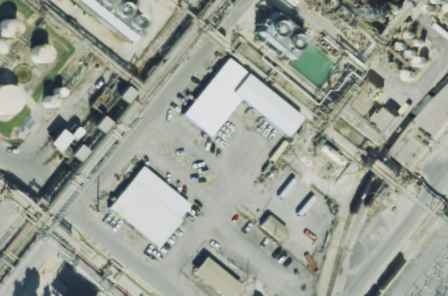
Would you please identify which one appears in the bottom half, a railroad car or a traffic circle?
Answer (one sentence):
What appears in the bottom half is a railroad car.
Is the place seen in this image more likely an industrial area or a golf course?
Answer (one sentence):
It's an industrial area.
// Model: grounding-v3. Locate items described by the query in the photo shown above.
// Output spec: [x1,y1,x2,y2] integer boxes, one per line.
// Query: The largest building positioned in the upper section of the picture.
[180,57,305,140]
